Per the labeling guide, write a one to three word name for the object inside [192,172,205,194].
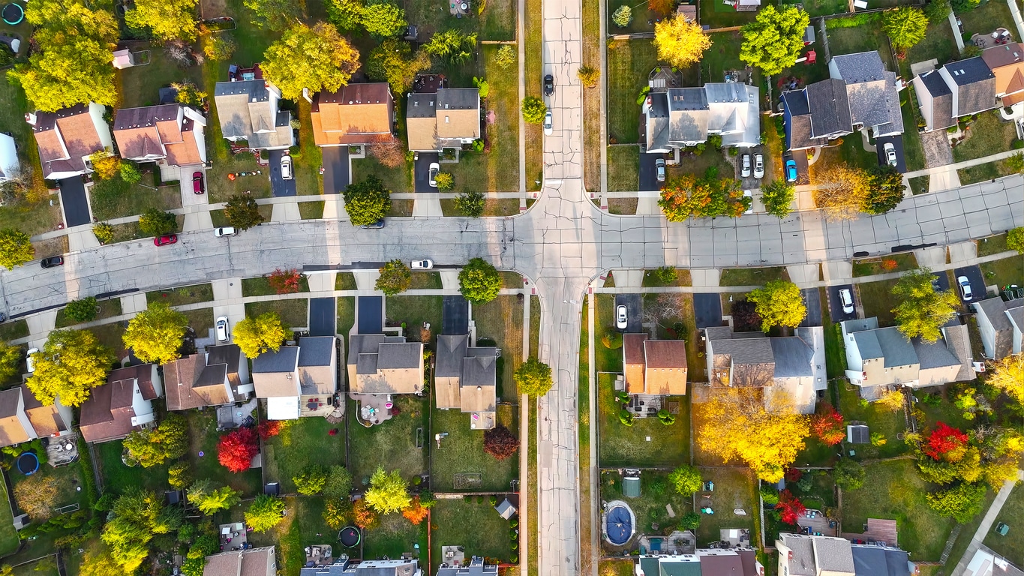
vehicle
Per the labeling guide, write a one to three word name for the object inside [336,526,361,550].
trampoline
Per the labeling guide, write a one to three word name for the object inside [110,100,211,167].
house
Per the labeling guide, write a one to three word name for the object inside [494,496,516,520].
shed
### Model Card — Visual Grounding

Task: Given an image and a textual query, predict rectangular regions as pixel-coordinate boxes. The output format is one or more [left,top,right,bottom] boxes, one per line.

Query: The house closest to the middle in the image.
[434,334,496,412]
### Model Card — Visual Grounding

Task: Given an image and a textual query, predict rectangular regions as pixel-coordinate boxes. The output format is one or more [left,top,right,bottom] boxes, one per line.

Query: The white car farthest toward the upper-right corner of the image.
[883,143,897,166]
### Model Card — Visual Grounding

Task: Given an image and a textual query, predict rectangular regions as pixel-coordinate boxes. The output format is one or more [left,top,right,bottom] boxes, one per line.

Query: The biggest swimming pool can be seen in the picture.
[602,501,635,547]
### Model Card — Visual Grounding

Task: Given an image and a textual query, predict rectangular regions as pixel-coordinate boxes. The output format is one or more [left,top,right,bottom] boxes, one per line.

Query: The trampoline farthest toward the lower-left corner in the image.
[14,453,40,476]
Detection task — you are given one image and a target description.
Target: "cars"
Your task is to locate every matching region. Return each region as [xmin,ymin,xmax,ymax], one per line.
[839,290,853,312]
[740,155,751,177]
[42,257,64,267]
[282,157,292,178]
[655,159,666,181]
[429,164,439,186]
[785,161,797,181]
[883,143,897,166]
[753,155,763,177]
[411,260,433,268]
[217,317,229,339]
[617,306,626,327]
[544,75,554,97]
[957,274,970,296]
[192,172,205,194]
[0,311,14,322]
[543,112,553,135]
[25,349,40,371]
[216,228,237,237]
[155,235,177,246]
